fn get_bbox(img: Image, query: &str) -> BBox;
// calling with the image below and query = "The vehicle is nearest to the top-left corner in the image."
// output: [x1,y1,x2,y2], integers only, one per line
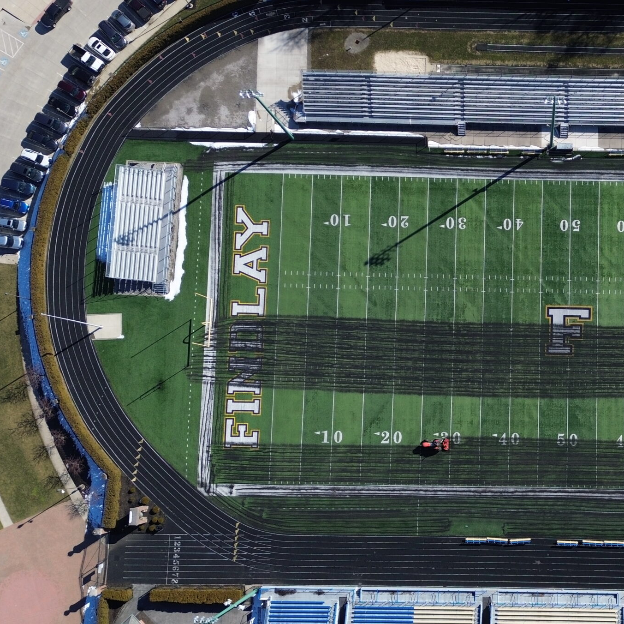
[38,0,74,30]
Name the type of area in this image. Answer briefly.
sports ground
